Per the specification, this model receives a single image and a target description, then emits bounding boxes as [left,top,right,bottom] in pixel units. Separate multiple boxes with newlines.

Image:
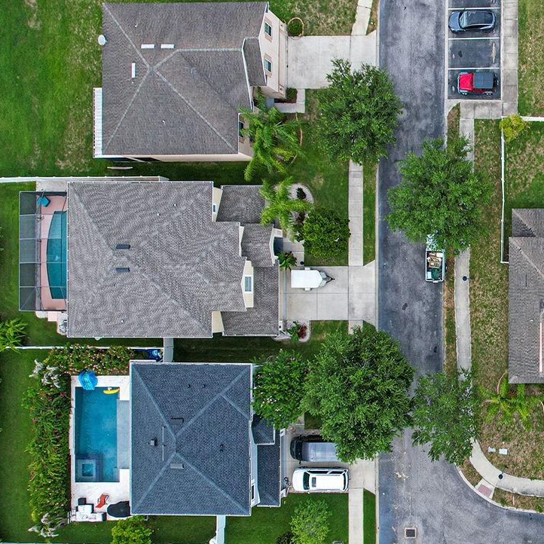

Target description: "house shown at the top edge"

[102,1,287,160]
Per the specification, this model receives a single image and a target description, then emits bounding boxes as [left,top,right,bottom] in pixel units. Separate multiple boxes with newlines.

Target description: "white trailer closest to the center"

[287,268,338,291]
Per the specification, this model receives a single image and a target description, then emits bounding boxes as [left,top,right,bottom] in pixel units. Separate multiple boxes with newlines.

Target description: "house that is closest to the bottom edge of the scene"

[130,361,286,516]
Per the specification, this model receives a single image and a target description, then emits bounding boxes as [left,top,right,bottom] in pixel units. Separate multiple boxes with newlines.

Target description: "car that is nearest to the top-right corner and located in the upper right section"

[449,9,497,34]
